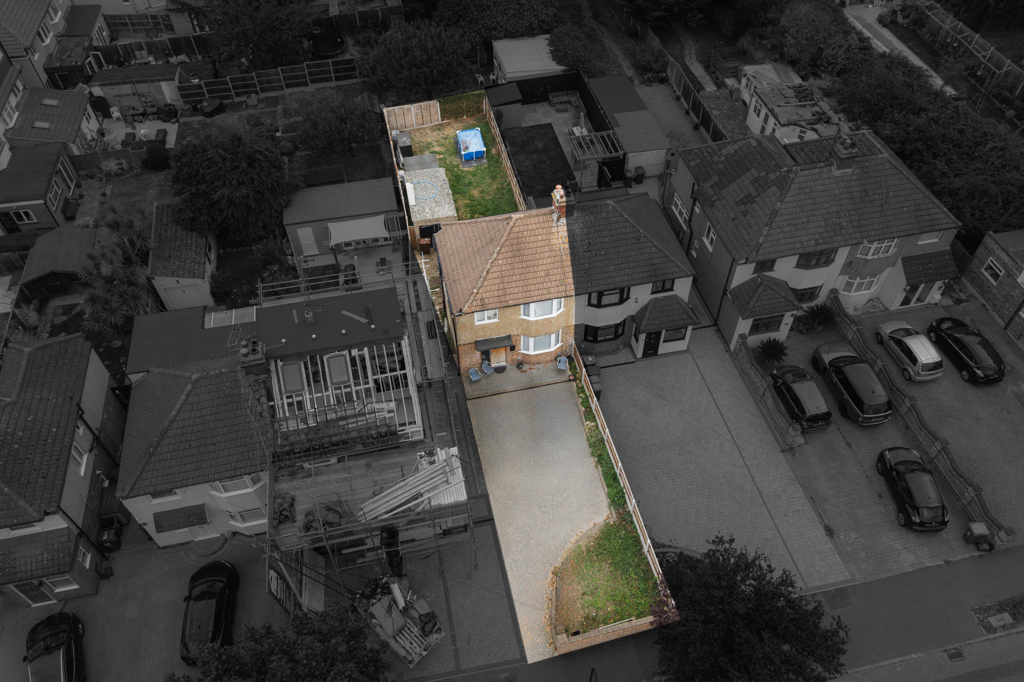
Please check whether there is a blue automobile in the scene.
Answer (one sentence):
No, I can't see a single blue automobile in this photo.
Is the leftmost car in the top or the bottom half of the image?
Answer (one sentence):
The leftmost car sits in the bottom half of the picture.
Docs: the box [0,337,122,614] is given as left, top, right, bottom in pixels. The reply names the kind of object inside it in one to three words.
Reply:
house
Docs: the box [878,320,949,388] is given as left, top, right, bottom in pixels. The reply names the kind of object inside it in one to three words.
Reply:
car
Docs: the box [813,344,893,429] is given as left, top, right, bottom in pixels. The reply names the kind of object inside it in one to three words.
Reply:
car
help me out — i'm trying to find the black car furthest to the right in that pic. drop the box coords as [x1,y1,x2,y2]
[929,317,1011,391]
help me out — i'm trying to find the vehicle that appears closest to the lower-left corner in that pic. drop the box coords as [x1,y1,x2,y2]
[17,613,84,682]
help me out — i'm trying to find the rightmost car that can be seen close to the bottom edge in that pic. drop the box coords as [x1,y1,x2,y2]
[175,560,238,680]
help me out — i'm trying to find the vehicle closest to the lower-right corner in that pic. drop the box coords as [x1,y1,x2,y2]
[877,448,955,541]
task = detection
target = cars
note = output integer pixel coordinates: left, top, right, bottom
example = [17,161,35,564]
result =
[878,320,949,388]
[813,344,893,429]
[175,560,238,680]
[929,317,1011,391]
[17,613,84,682]
[772,354,836,428]
[877,448,955,541]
